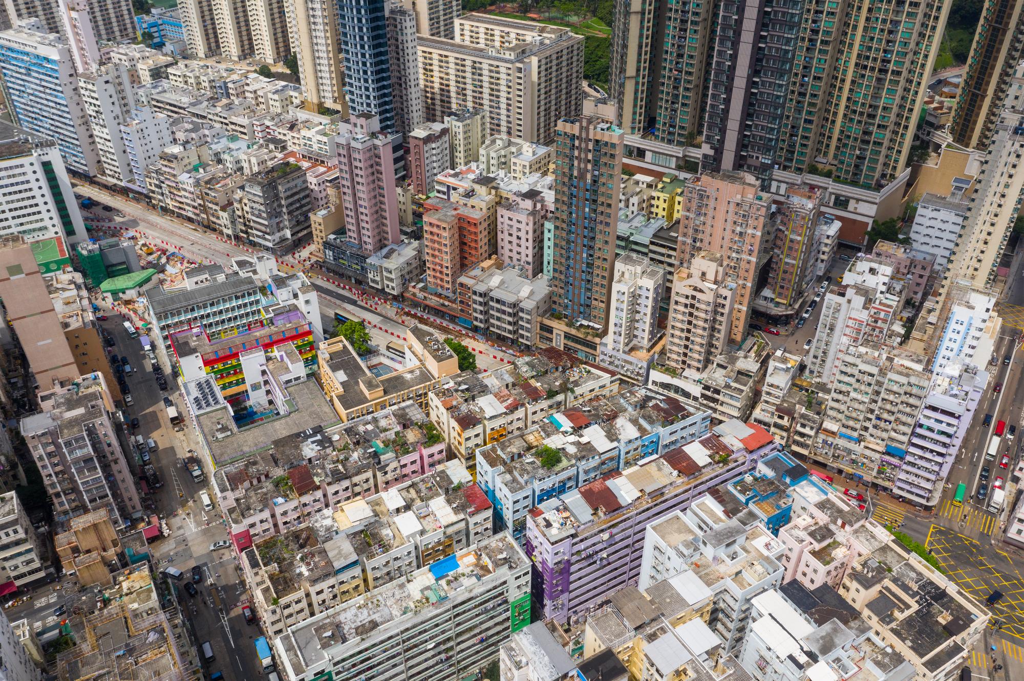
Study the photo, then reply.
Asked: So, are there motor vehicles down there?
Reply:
Yes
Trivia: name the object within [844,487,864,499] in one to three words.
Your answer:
vehicle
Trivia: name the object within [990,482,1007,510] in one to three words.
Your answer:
vehicle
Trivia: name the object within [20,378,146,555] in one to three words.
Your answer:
building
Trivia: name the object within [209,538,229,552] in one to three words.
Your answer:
car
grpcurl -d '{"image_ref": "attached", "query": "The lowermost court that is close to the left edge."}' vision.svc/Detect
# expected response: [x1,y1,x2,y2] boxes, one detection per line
[32,237,72,266]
